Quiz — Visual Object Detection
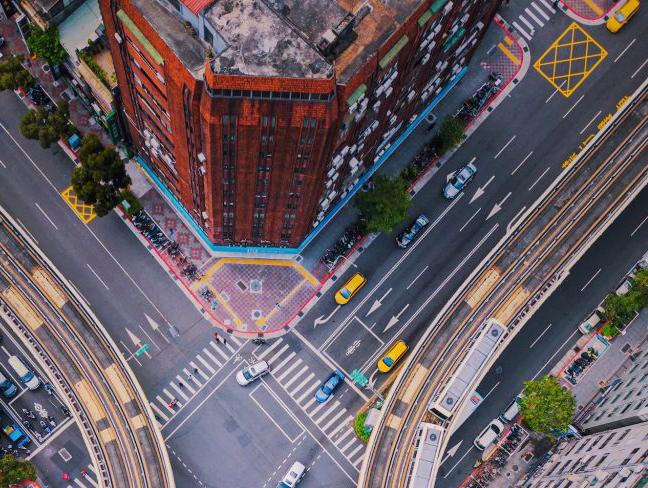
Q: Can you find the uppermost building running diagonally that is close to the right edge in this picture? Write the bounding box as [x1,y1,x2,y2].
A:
[574,348,648,431]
